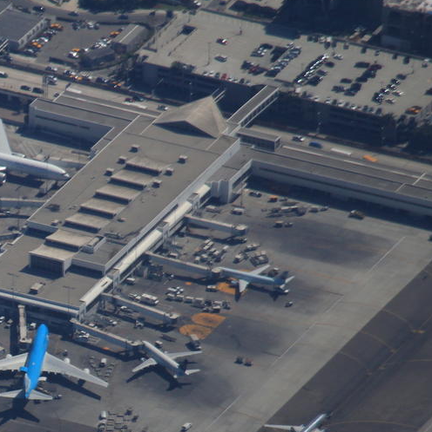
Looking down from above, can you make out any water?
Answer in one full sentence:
No, the picture contains no water.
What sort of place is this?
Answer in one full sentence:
This image shows an airport.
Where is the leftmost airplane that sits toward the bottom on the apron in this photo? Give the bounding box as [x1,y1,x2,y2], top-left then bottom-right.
[0,326,110,404]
